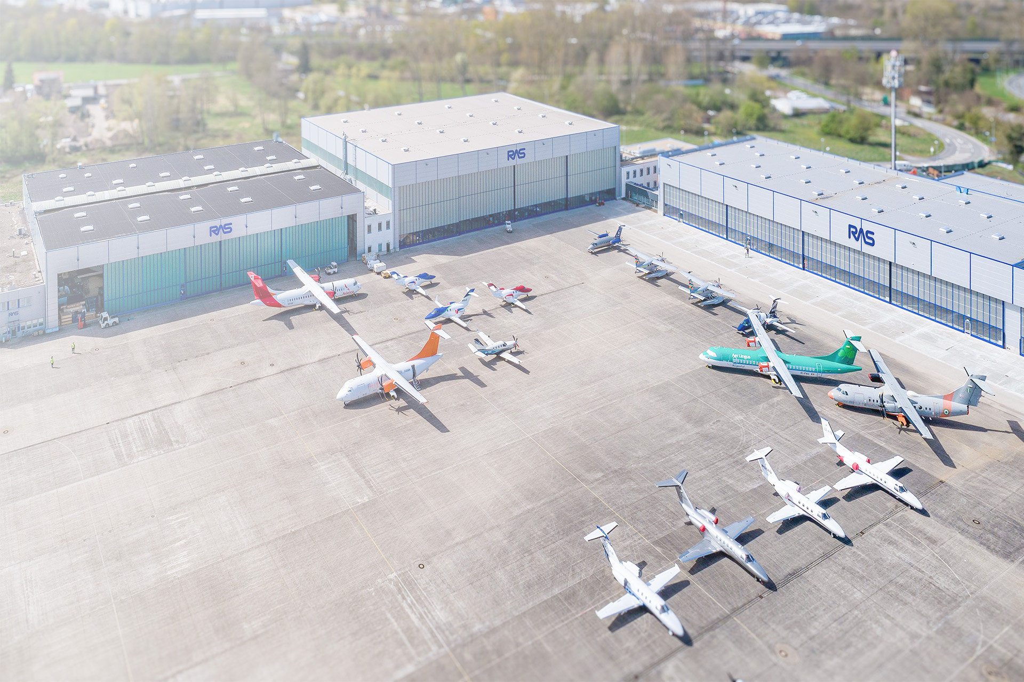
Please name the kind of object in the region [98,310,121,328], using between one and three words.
work vehicle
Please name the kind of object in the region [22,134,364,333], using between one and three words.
hangar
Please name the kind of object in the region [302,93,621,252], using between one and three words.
hangar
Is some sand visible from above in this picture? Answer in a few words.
No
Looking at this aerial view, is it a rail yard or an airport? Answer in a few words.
airport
